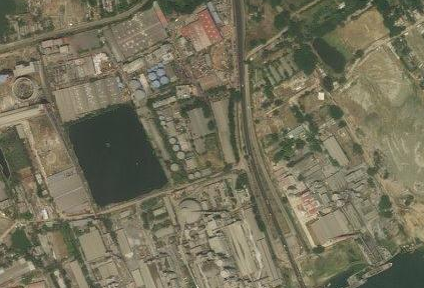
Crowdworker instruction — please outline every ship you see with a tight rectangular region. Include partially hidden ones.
[363,264,391,281]
[345,279,367,288]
